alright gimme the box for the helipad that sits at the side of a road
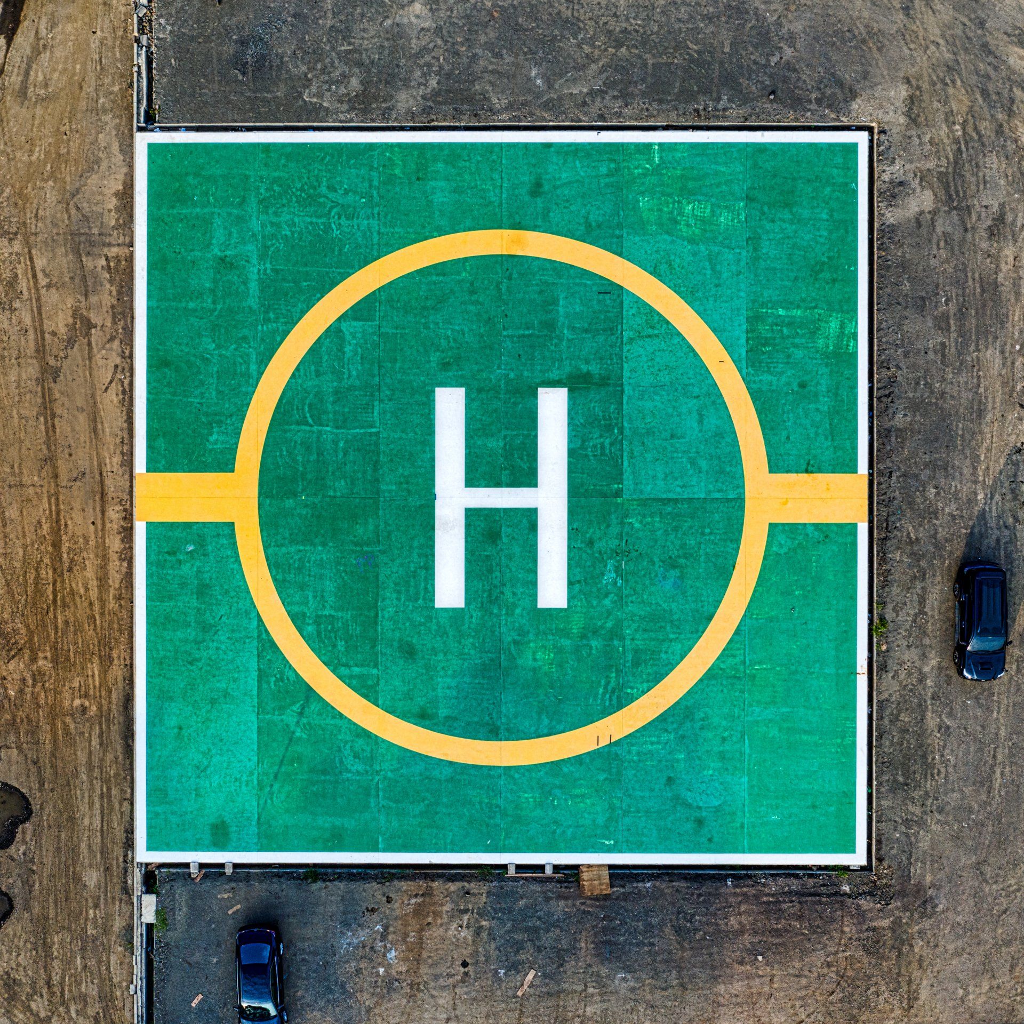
[136,131,868,864]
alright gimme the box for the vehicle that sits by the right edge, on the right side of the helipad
[952,559,1015,682]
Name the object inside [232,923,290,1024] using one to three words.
car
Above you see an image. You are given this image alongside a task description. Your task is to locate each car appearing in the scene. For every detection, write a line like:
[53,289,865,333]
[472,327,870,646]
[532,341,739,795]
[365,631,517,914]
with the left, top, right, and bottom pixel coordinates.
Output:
[232,923,290,1024]
[952,559,1015,682]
